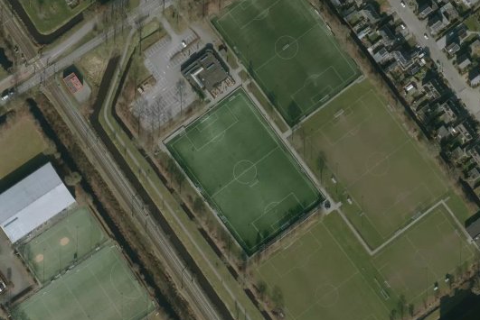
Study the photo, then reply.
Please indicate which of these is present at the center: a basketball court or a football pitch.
football pitch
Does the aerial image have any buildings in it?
Yes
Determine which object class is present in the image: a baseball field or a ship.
baseball field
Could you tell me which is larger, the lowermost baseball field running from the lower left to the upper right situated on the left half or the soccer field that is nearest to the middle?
the soccer field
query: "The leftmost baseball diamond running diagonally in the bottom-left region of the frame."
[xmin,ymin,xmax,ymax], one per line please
[21,206,111,283]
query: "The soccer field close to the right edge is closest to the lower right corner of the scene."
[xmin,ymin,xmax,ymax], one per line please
[375,213,472,303]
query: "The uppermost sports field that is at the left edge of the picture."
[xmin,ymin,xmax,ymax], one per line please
[0,106,49,177]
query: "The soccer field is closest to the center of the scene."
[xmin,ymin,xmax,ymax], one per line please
[165,89,323,256]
